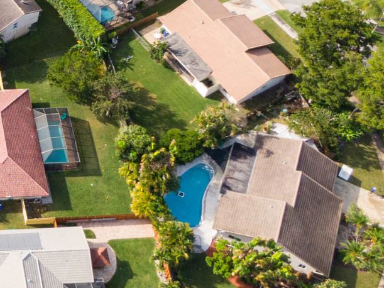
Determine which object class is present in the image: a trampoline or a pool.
pool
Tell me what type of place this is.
residential area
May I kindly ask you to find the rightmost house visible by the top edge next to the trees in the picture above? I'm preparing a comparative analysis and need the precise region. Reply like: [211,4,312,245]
[159,0,290,107]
